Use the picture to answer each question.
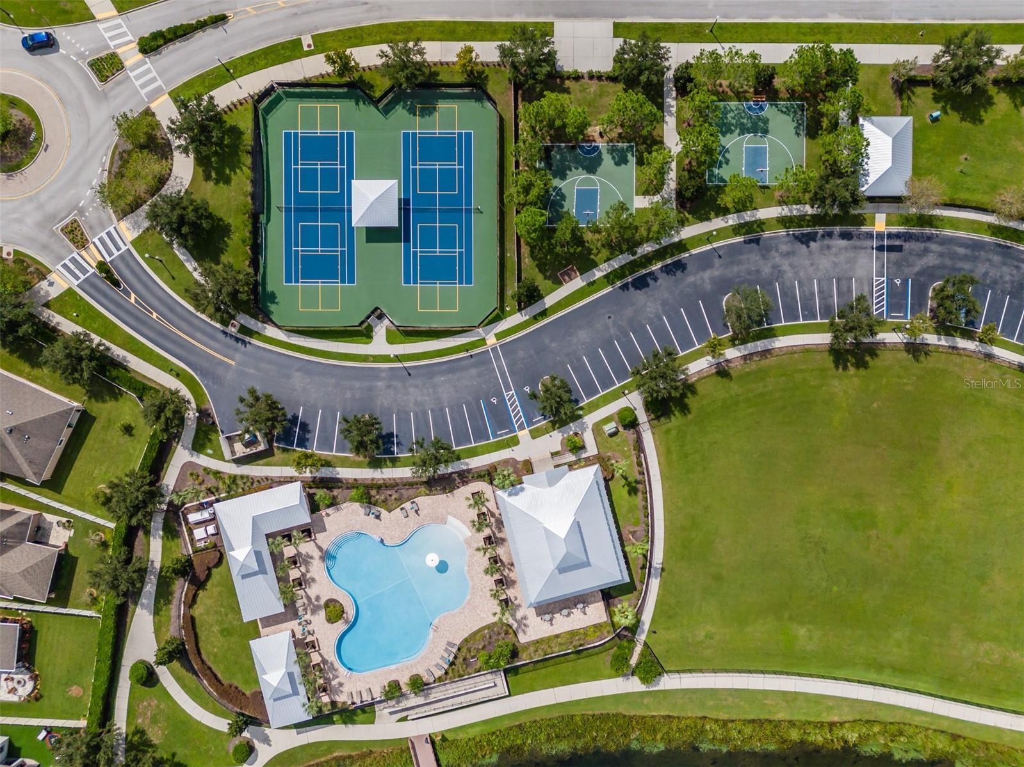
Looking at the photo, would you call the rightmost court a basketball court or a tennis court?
basketball court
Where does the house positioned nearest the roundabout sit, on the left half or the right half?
left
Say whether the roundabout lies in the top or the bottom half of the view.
top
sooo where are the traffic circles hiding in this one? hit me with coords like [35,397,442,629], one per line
[0,33,106,234]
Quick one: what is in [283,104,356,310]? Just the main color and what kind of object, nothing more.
blue tennis court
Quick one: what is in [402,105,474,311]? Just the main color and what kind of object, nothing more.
blue tennis court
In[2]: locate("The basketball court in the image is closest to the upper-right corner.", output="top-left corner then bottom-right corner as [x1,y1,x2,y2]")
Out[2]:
[706,102,805,184]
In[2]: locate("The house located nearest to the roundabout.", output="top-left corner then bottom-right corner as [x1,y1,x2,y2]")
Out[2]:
[0,368,85,485]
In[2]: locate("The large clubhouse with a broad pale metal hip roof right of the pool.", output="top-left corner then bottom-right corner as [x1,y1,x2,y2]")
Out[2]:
[496,464,630,608]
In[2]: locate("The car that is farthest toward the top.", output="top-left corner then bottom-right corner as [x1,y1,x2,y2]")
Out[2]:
[21,31,54,50]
